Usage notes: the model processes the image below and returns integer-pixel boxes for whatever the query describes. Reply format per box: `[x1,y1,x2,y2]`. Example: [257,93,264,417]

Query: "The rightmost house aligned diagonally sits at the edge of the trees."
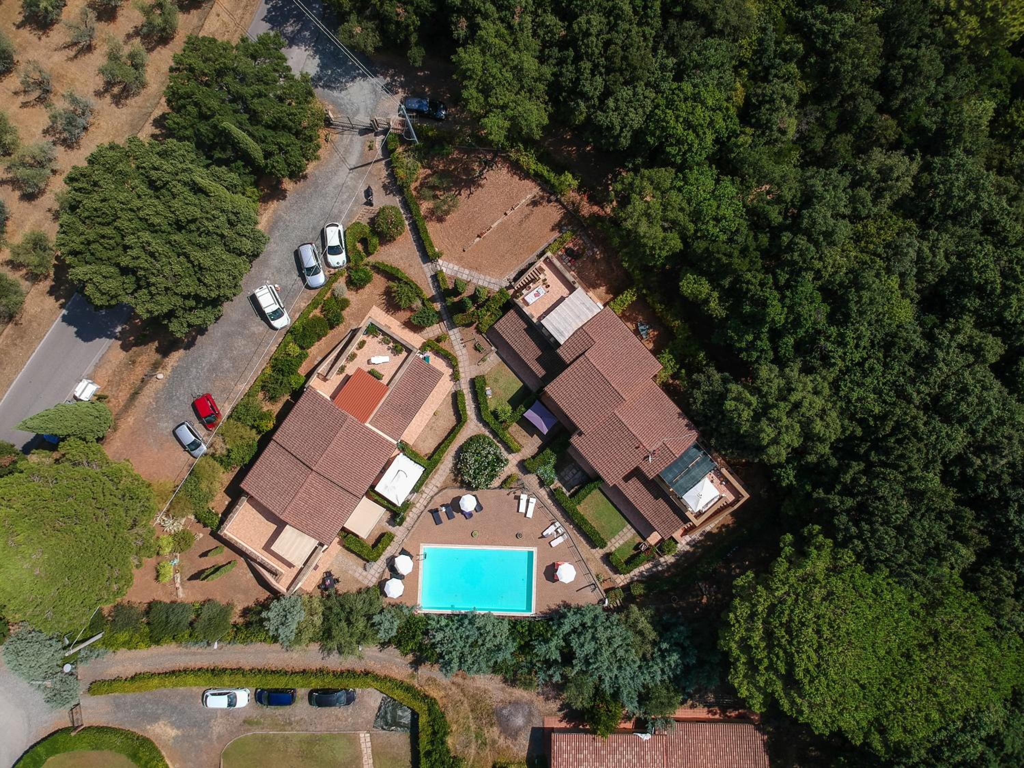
[493,250,752,540]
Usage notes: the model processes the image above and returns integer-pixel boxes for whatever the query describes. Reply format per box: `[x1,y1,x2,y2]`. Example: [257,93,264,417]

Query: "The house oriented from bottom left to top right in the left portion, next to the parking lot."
[219,316,444,594]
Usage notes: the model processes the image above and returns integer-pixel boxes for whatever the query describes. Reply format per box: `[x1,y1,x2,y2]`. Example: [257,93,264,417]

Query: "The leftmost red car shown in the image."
[192,392,221,433]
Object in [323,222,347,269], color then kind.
white car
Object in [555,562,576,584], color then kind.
white umbrella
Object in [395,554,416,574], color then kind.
white umbrella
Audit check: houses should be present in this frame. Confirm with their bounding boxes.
[219,316,444,594]
[550,706,772,768]
[493,250,752,540]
